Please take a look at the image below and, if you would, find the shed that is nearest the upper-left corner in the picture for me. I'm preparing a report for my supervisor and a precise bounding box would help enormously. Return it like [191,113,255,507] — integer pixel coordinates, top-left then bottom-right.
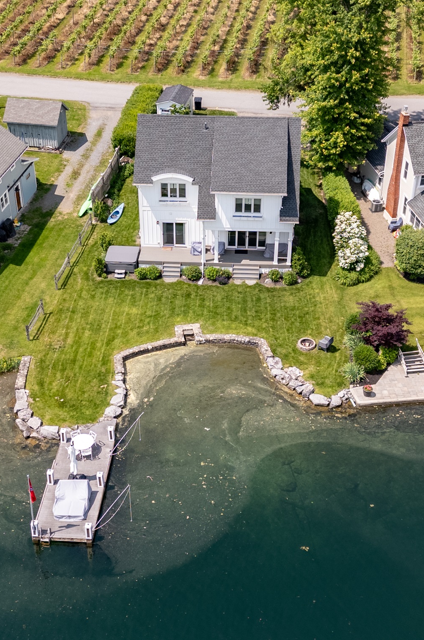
[0,97,74,151]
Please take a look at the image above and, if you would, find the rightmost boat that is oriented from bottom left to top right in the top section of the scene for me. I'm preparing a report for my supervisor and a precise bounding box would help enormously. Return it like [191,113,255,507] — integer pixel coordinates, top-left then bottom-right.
[107,201,123,219]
